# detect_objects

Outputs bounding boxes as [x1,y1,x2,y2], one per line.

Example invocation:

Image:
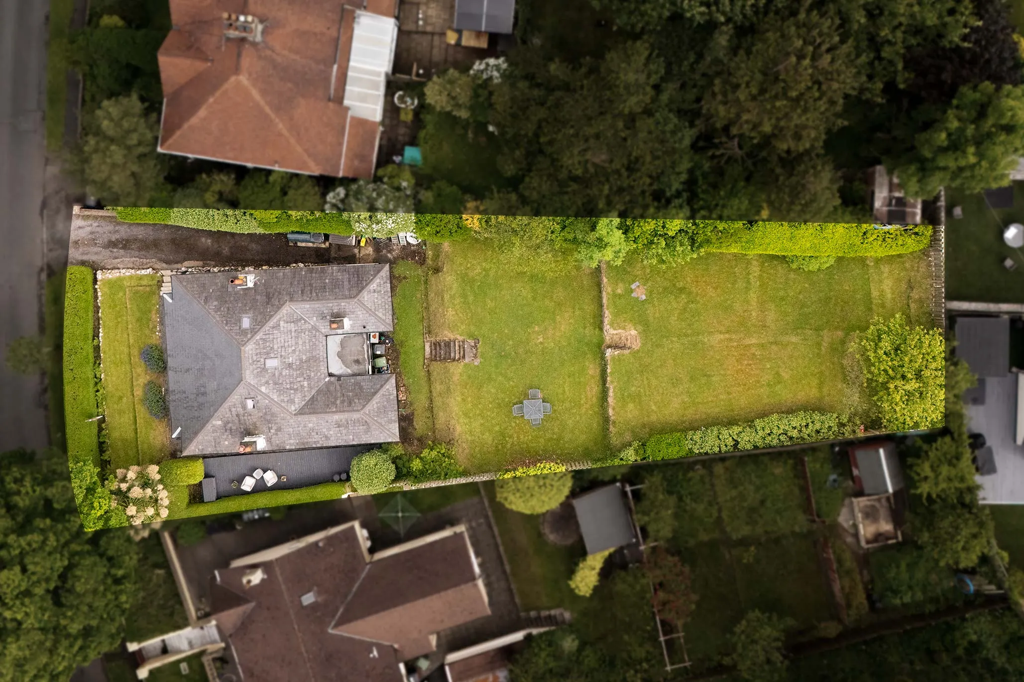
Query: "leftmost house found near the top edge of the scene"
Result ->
[157,0,401,182]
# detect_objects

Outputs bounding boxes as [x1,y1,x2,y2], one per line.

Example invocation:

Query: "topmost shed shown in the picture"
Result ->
[454,0,515,48]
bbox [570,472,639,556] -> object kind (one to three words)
shed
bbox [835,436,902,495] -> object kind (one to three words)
shed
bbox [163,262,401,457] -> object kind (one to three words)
house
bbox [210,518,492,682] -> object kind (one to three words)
house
